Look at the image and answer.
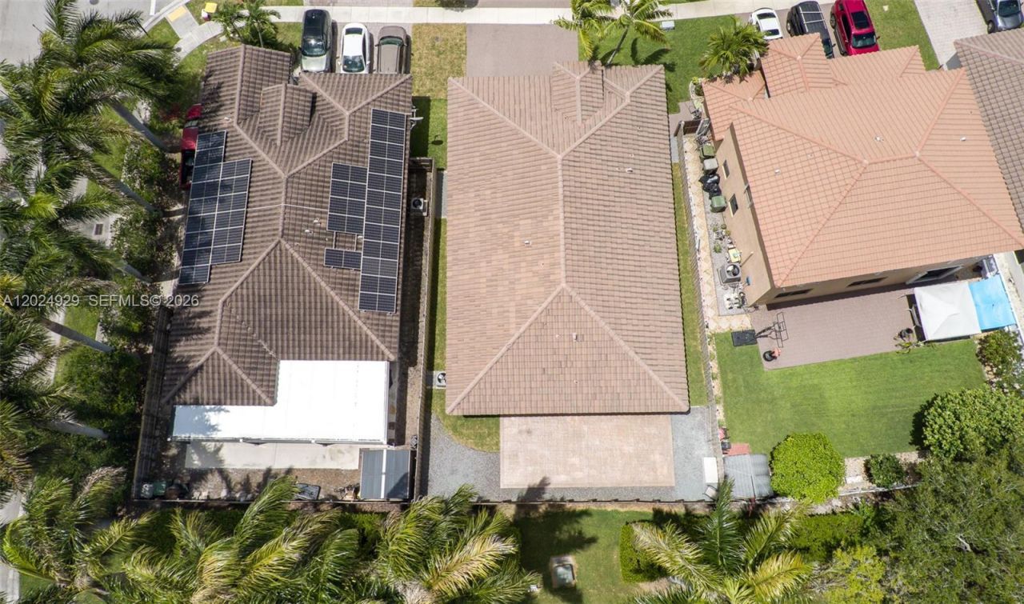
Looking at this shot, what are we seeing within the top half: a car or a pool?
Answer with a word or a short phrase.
car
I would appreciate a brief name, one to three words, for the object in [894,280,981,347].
gazebo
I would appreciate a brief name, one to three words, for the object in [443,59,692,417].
house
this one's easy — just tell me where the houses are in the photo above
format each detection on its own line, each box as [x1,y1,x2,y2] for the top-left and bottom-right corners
[161,43,413,406]
[443,59,692,417]
[700,31,1024,303]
